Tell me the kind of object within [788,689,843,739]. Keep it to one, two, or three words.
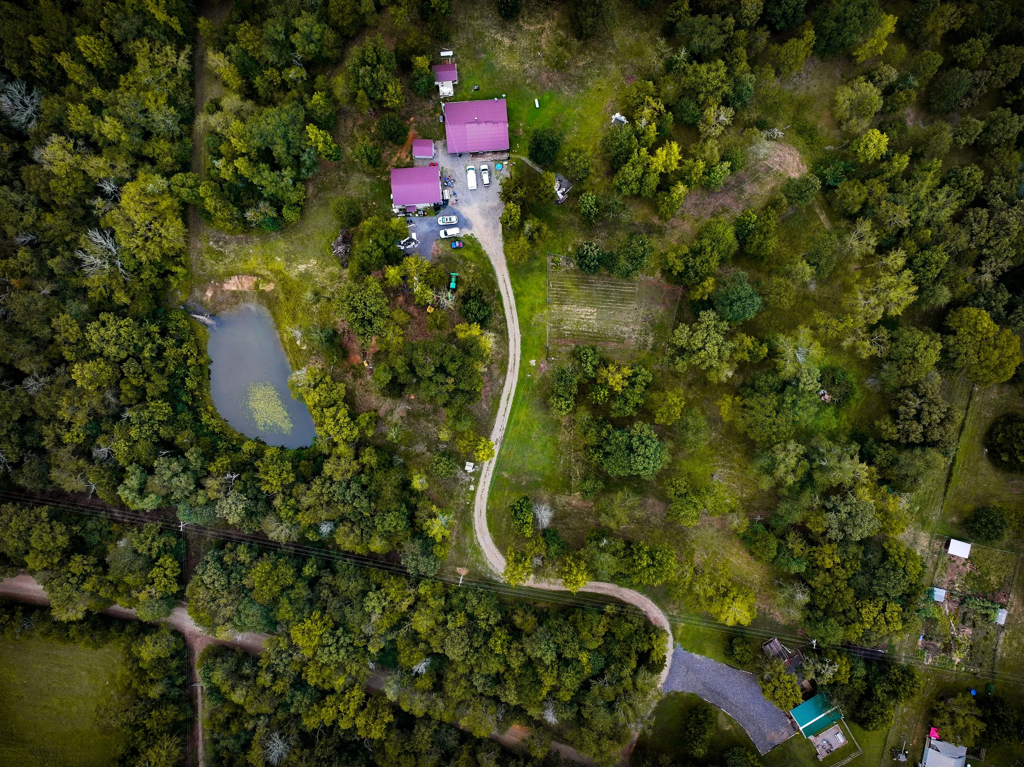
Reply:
house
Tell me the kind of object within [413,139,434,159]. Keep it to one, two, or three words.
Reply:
shed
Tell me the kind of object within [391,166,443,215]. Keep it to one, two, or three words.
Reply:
house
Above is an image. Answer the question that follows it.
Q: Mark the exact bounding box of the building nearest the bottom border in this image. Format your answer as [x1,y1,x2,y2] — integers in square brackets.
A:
[915,736,967,767]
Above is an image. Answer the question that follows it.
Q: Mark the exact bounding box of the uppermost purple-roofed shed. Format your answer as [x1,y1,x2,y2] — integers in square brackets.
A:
[433,64,459,90]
